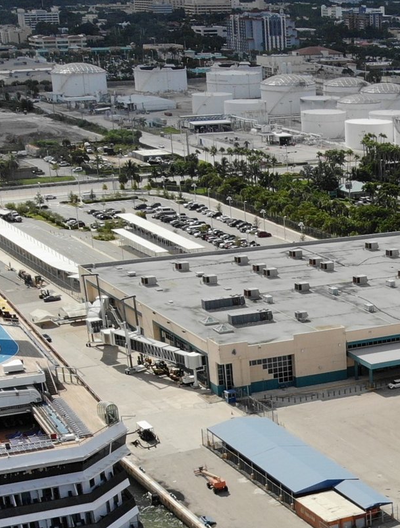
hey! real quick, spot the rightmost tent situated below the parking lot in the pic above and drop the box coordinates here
[49,304,89,326]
